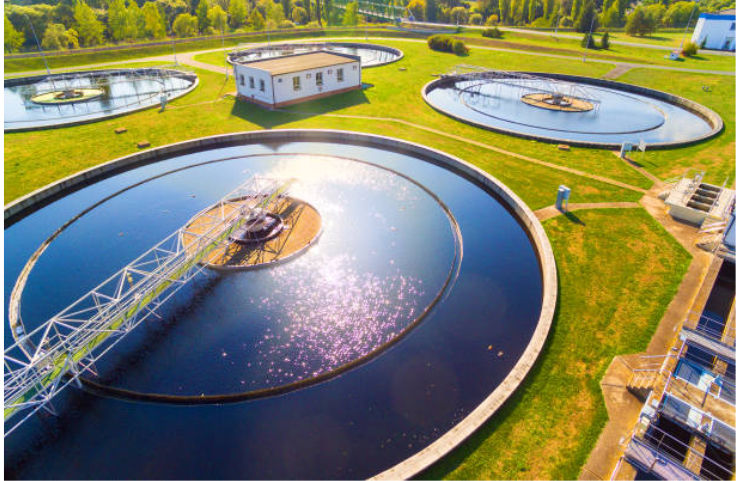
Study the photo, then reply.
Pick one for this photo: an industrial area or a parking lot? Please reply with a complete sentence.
The area seen from above is an industrial area.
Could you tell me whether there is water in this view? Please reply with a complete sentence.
Yes, there's water in this view.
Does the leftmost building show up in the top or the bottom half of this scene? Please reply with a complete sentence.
The leftmost building is in the top half of the image.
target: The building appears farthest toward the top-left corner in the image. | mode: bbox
[234,51,361,107]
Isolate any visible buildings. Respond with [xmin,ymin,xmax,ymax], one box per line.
[690,7,740,48]
[234,51,361,107]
